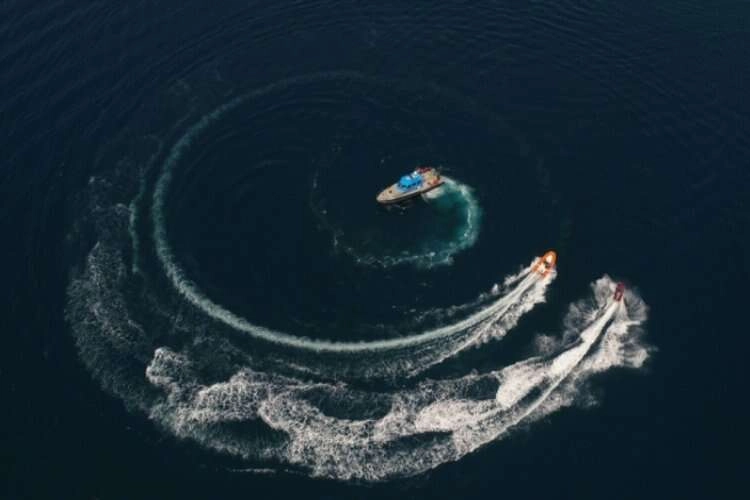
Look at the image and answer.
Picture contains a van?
No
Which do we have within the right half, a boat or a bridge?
boat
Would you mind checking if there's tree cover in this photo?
No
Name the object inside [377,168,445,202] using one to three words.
boat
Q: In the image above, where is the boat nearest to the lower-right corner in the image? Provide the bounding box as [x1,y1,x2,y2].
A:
[612,281,625,302]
